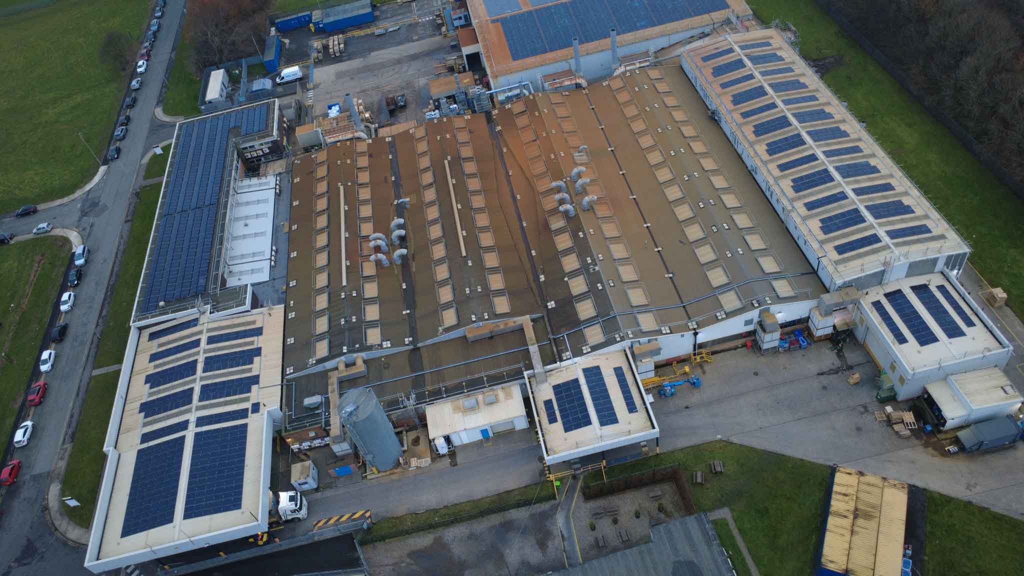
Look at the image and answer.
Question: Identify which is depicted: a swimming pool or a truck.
truck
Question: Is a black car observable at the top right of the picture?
No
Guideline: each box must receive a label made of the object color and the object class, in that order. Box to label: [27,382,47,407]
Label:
red car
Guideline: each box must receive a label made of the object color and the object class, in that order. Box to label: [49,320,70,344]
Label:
black car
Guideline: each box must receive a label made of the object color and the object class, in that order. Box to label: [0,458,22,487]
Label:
red car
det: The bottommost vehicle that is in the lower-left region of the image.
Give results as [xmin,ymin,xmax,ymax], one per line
[246,531,267,547]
